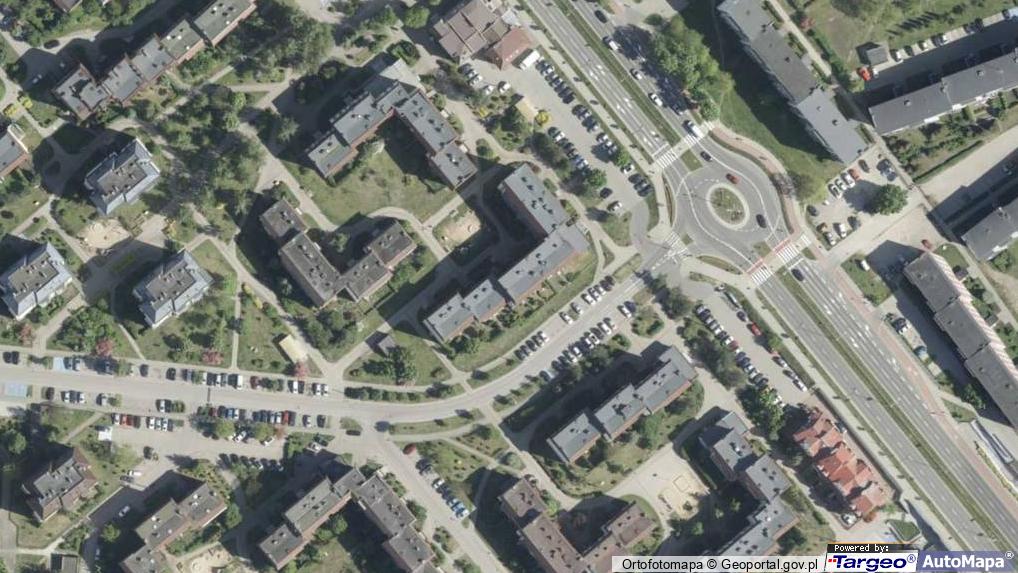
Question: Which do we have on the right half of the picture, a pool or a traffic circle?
traffic circle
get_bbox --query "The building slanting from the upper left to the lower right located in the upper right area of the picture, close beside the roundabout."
[715,0,868,175]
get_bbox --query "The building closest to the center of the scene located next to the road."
[421,164,590,349]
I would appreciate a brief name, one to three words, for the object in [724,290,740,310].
vehicle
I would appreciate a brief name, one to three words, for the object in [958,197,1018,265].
building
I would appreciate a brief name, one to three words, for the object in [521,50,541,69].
vehicle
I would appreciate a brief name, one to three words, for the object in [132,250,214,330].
house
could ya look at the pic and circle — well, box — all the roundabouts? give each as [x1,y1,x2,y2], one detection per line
[660,125,794,278]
